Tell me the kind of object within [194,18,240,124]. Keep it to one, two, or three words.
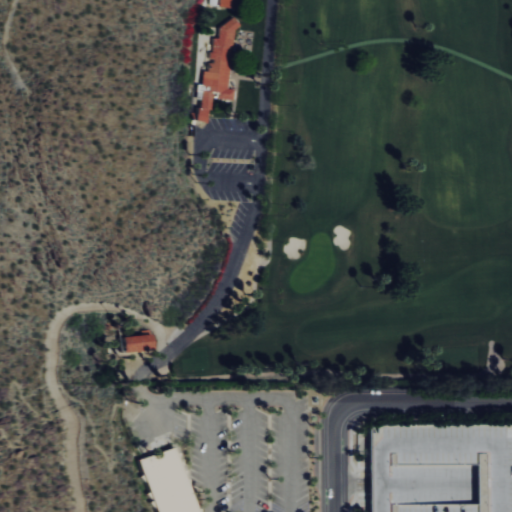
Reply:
building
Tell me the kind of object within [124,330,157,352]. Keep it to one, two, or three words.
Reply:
building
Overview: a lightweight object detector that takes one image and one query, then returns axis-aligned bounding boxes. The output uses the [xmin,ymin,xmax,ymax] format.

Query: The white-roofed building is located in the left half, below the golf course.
[136,446,202,512]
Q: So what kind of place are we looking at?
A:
golf course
